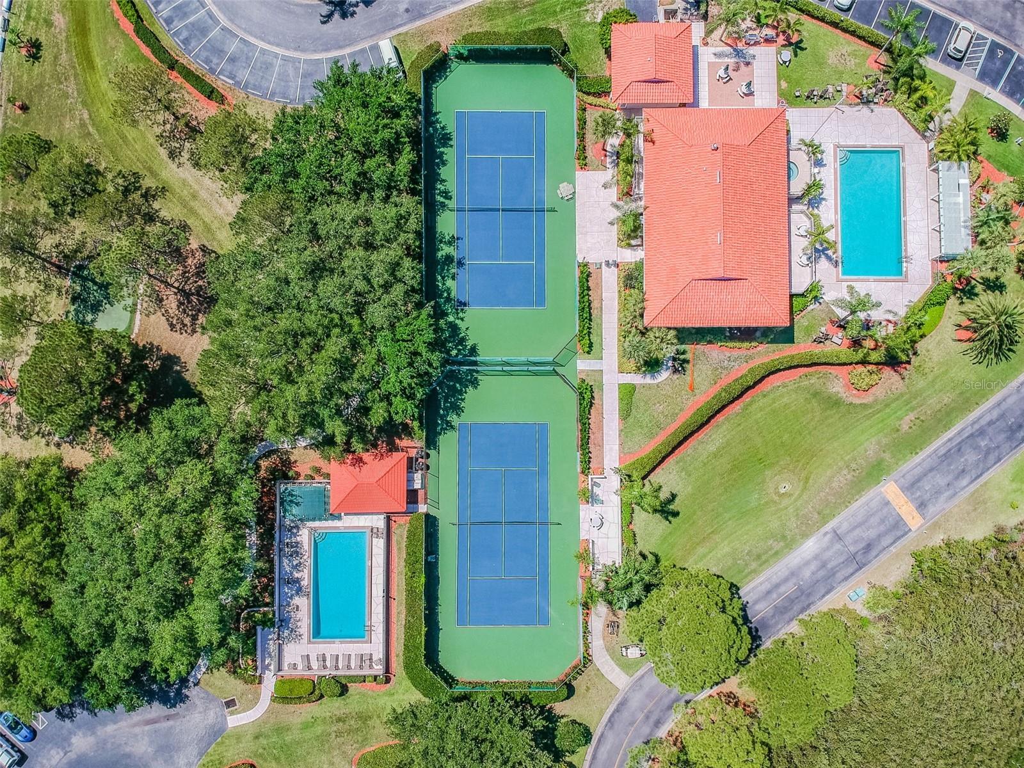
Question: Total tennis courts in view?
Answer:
two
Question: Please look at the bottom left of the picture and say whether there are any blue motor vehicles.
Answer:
Yes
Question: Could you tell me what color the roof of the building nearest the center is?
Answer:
red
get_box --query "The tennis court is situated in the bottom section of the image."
[428,365,580,681]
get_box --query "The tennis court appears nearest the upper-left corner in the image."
[425,57,577,365]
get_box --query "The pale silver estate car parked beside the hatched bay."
[944,20,974,61]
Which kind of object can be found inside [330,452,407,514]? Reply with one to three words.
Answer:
building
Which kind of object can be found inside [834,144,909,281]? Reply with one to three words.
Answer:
swimming pool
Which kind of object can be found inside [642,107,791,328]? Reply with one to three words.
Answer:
building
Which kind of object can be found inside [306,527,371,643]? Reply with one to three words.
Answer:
swimming pool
